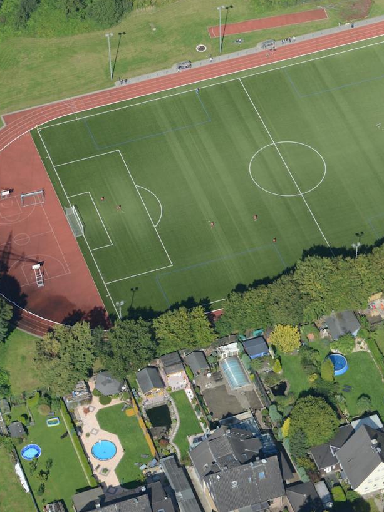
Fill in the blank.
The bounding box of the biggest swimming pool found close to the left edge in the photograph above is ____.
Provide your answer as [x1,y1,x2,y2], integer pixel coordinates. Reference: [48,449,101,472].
[18,441,44,460]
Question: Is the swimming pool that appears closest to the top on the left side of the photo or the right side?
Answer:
right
